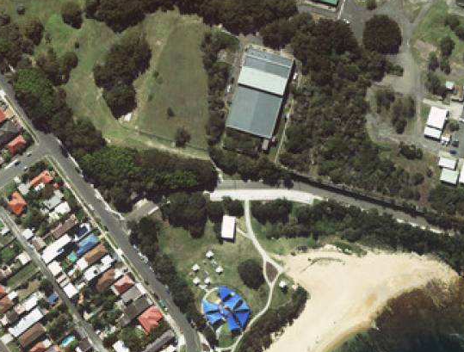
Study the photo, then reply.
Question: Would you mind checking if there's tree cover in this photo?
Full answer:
Yes, there's tree cover in this view.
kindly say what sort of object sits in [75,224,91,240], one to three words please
swimming pool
